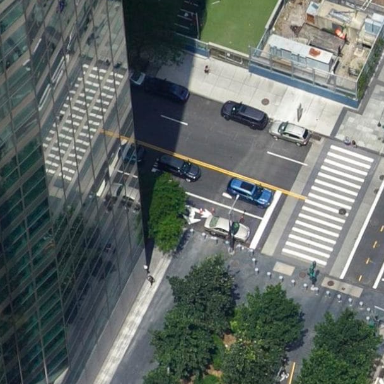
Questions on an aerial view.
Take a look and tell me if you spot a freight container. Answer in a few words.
Yes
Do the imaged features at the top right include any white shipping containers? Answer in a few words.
Yes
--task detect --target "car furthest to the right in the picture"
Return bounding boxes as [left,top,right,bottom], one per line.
[269,123,312,149]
